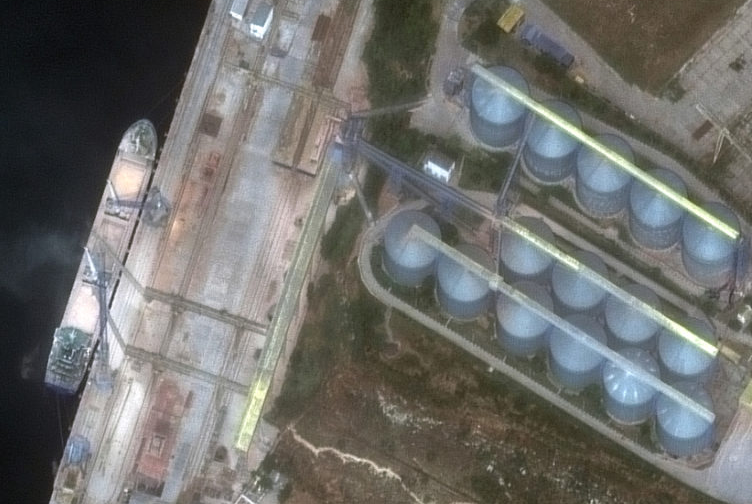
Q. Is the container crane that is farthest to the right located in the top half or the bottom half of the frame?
top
